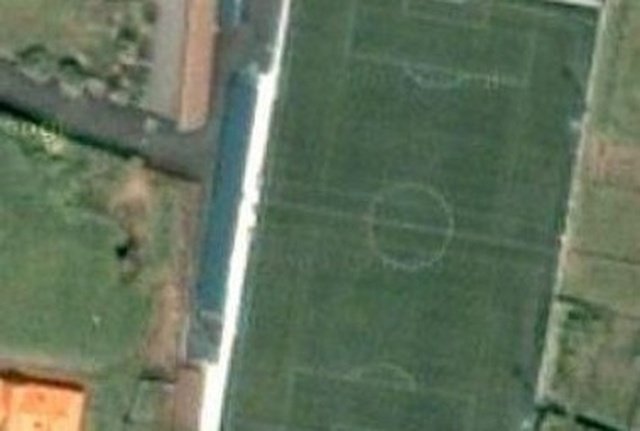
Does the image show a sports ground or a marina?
sports ground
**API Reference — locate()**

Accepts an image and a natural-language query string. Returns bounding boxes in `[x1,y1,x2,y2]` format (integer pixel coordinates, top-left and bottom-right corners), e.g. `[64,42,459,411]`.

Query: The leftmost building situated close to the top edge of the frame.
[181,0,219,131]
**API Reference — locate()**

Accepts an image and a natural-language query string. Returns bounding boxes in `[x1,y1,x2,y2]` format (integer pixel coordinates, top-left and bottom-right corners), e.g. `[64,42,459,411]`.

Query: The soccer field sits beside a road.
[222,0,599,431]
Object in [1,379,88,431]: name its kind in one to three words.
house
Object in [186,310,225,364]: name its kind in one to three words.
building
